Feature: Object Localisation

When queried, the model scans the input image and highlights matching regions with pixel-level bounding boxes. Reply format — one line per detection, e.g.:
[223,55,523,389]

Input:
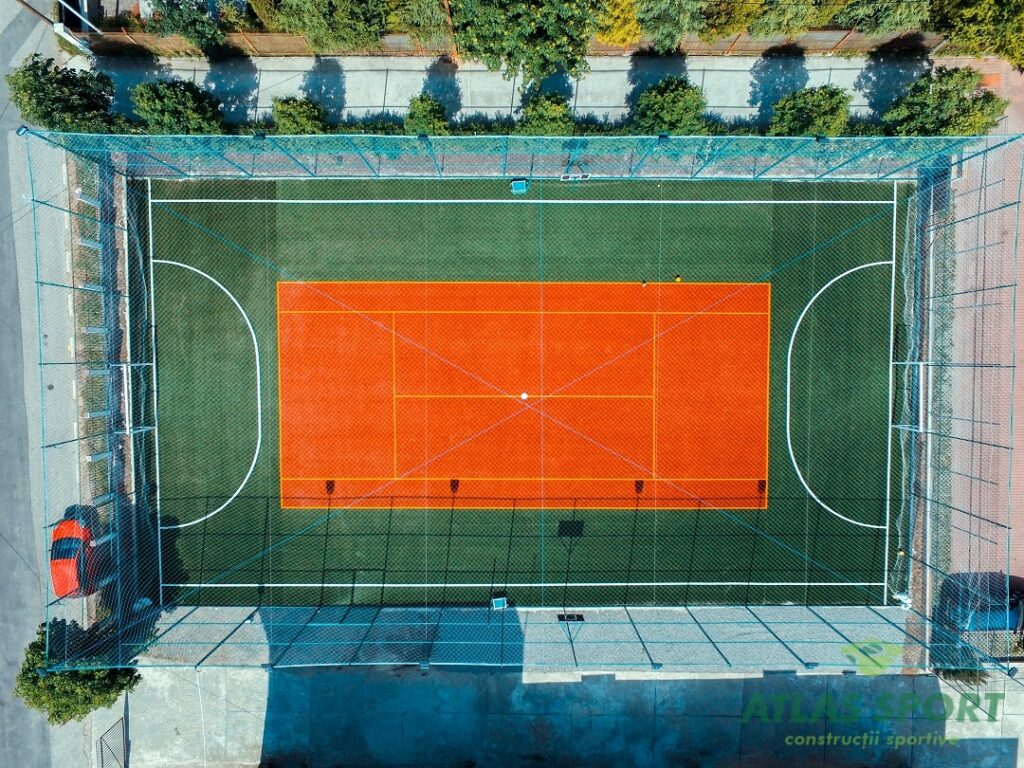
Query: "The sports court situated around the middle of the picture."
[127,178,910,607]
